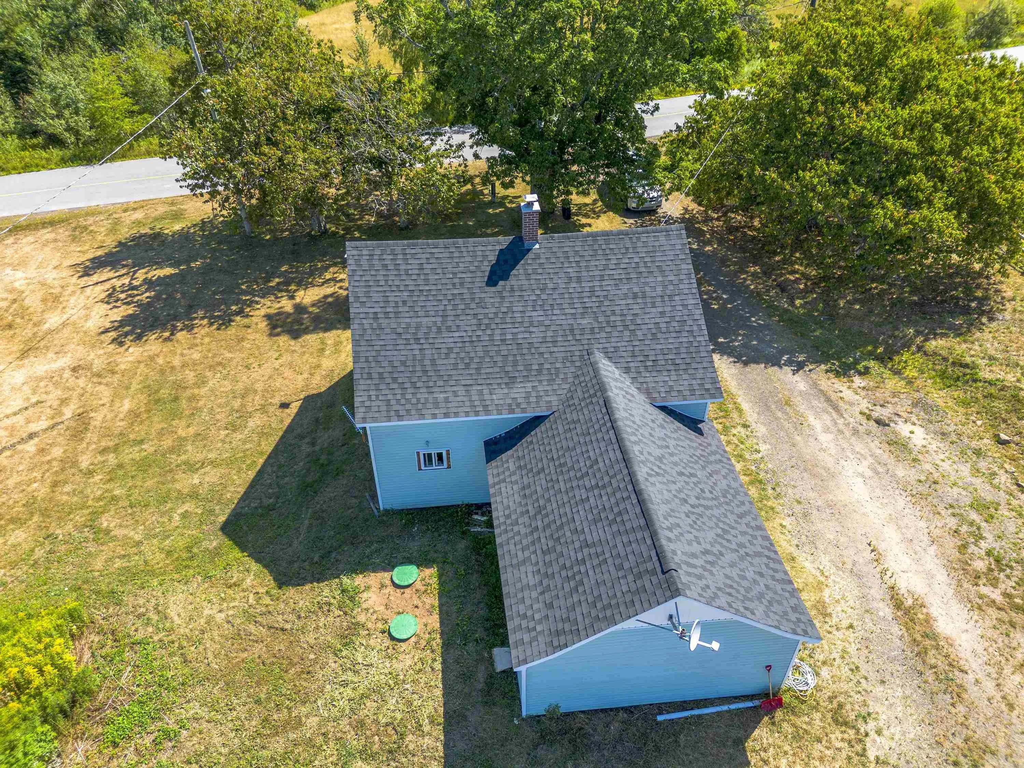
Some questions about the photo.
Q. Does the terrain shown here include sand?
No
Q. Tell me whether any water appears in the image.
No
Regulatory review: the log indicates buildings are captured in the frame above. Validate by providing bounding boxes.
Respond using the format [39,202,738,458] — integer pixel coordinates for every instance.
[346,195,822,722]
